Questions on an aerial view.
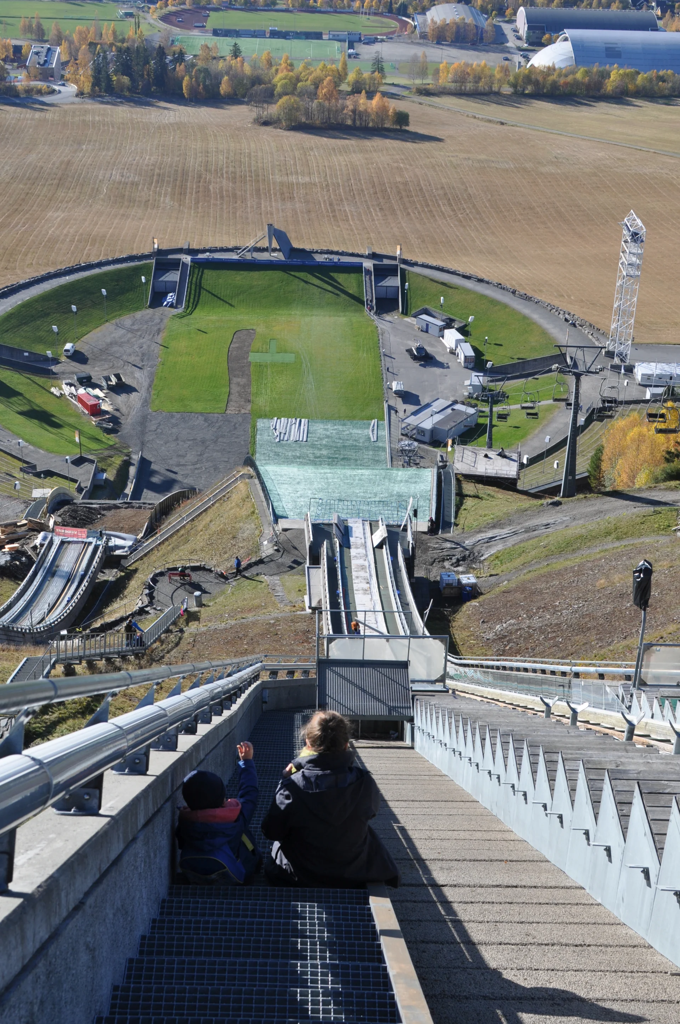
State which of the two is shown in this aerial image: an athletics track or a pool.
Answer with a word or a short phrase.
athletics track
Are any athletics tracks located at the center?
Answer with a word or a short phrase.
No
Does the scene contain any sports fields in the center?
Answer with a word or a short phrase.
No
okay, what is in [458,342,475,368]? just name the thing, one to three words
shed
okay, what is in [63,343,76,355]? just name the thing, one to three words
vehicle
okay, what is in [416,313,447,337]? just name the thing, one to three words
shed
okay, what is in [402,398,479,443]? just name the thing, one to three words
building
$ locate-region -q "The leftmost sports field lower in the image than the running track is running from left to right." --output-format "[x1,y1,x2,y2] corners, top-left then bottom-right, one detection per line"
[173,36,341,59]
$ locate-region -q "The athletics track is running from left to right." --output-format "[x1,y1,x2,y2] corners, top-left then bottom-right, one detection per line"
[163,7,413,36]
